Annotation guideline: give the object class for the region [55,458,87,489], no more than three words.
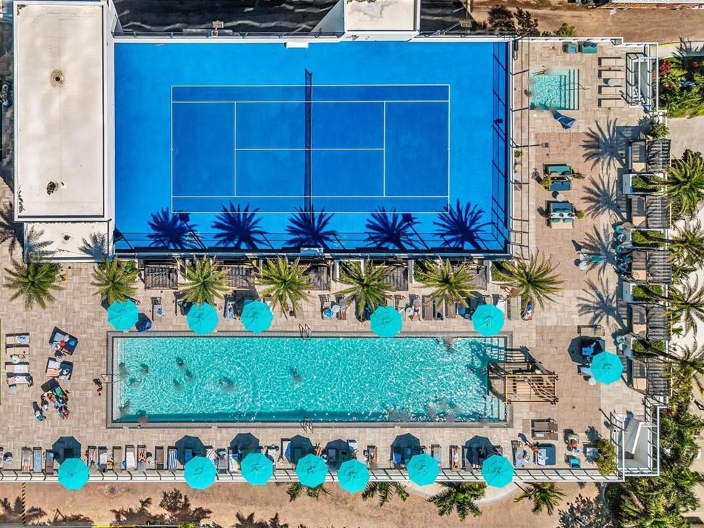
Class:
umbrella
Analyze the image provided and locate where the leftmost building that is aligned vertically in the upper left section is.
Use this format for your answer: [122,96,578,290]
[14,0,115,220]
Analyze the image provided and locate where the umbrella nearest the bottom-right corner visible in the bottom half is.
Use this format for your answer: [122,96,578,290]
[587,354,623,385]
